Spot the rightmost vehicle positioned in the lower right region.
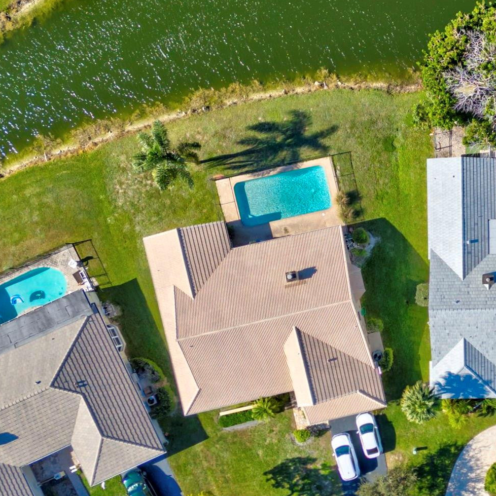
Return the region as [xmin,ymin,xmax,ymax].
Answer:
[353,411,383,463]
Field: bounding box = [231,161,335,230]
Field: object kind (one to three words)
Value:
swimming pool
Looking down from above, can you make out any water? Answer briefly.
Yes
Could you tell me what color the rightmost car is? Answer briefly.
white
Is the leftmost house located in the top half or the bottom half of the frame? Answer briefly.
bottom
